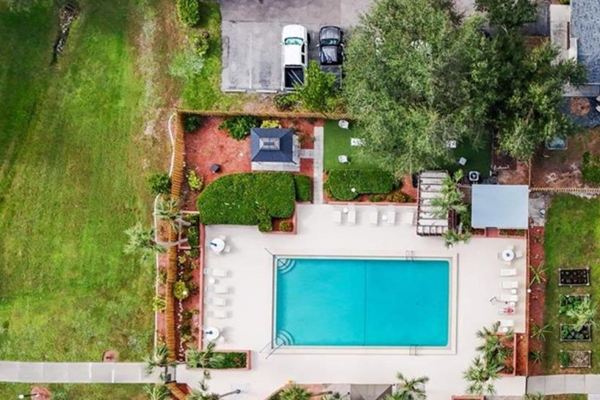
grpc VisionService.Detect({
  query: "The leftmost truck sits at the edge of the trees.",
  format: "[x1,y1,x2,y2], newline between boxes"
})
[278,24,306,88]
